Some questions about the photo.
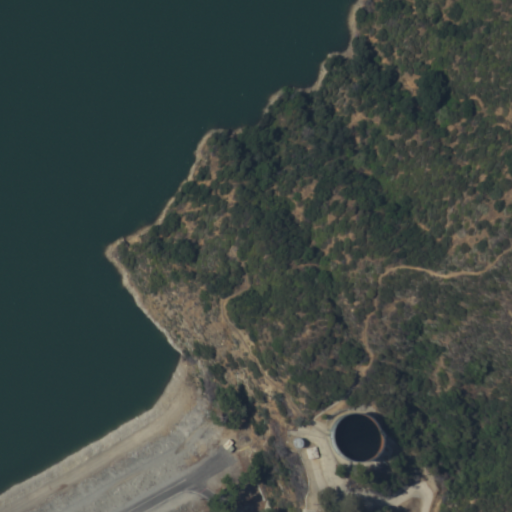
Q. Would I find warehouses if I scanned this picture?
No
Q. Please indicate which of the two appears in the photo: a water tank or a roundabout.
water tank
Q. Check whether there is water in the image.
Yes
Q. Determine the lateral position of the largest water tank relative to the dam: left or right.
right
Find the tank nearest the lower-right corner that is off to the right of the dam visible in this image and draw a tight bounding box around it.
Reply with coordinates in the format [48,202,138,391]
[328,408,384,464]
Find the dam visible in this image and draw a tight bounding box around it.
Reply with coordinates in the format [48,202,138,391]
[0,352,229,512]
